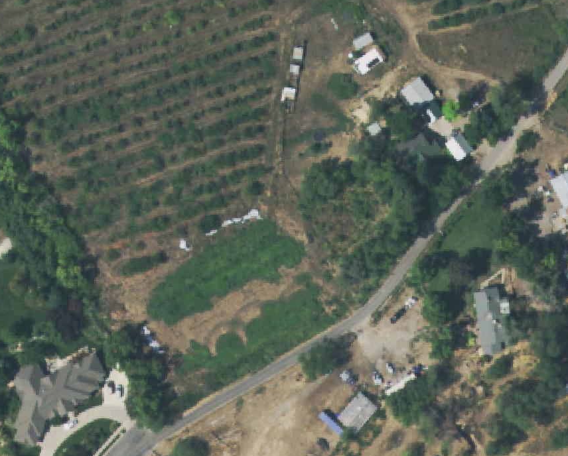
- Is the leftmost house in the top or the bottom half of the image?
bottom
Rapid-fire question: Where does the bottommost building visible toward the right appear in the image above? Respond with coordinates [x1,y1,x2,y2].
[339,392,377,432]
